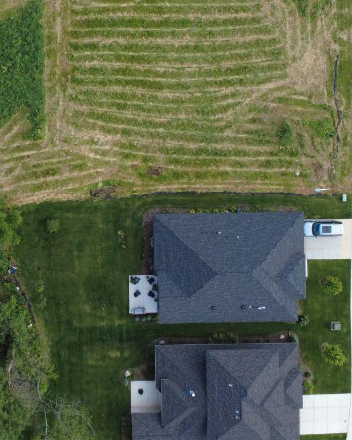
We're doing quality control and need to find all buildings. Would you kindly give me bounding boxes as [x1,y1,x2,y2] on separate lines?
[131,342,302,440]
[153,212,308,324]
